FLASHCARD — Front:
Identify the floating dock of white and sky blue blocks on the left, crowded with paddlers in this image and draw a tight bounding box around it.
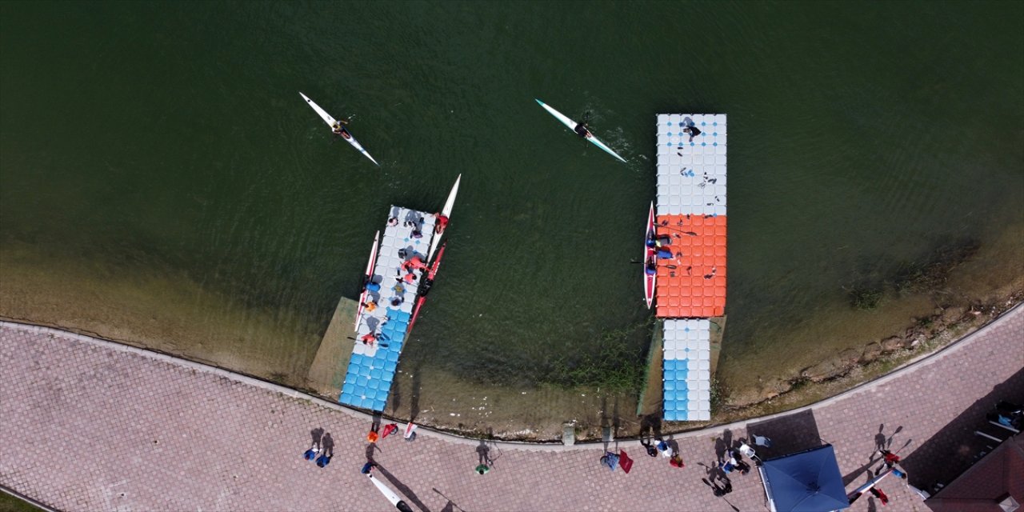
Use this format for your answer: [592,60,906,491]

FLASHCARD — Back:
[339,205,437,413]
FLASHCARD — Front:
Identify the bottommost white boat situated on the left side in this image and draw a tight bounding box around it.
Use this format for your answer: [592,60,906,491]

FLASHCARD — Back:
[369,476,414,512]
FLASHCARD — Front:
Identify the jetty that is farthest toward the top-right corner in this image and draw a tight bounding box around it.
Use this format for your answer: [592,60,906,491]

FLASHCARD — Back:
[656,113,727,318]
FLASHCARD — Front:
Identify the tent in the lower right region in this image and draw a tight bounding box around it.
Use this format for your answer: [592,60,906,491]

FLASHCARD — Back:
[754,436,850,512]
